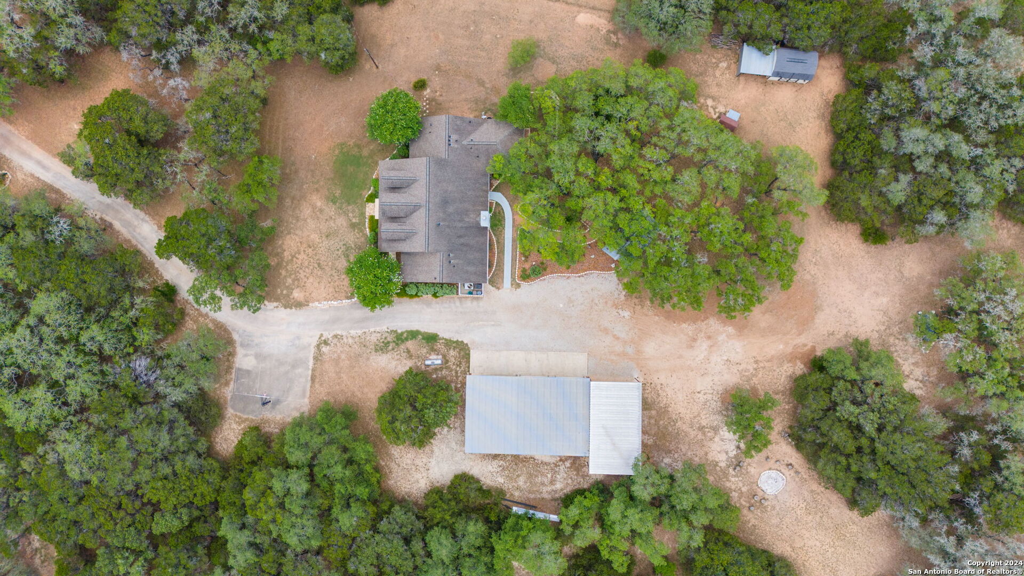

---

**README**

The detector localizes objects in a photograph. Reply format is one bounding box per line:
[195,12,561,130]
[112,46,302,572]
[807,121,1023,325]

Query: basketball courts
[229,335,320,419]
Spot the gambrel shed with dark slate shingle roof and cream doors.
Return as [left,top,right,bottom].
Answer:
[765,47,820,85]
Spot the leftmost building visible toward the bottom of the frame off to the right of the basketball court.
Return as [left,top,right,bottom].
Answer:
[465,373,590,457]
